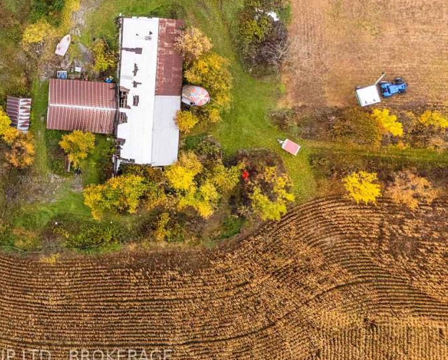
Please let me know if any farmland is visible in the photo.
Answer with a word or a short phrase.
Yes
